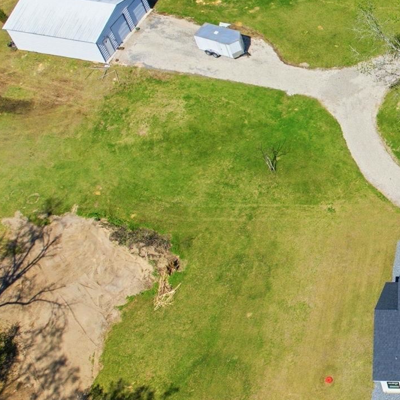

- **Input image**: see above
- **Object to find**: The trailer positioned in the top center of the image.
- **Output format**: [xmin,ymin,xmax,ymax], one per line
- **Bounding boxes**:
[195,26,255,59]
